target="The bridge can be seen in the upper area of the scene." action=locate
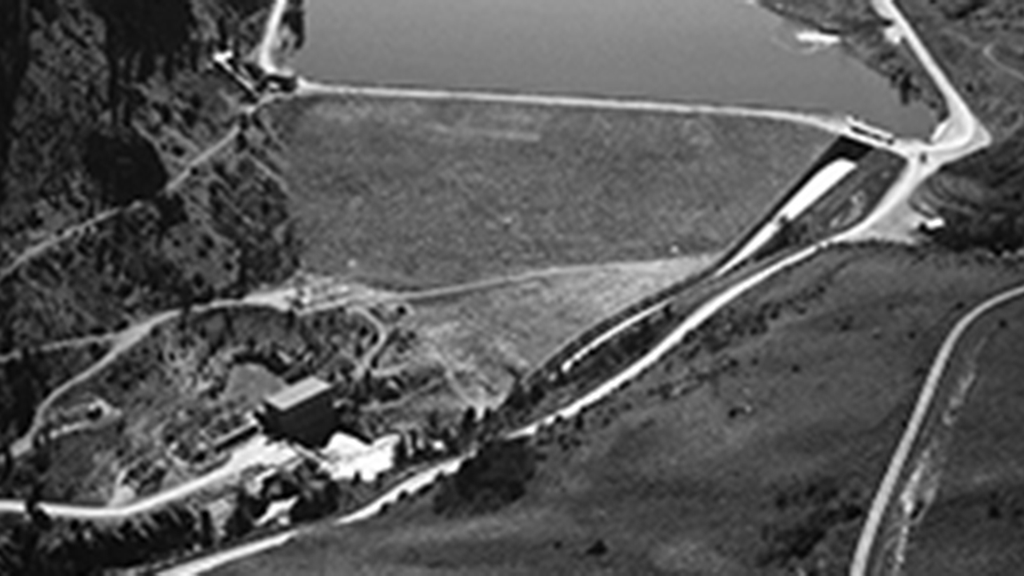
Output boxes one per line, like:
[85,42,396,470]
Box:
[834,126,898,155]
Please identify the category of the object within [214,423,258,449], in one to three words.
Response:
shed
